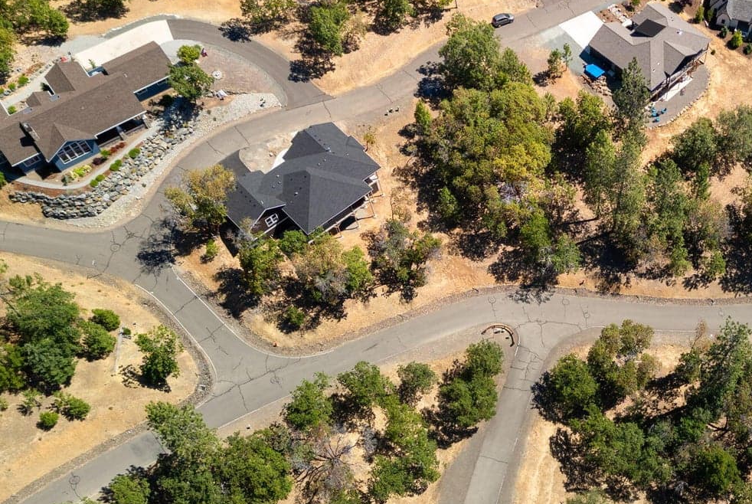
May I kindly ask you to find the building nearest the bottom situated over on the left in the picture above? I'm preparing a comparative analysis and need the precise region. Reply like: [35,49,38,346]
[217,123,383,245]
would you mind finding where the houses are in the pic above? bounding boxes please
[709,0,752,37]
[0,44,171,173]
[589,3,712,105]
[217,123,383,245]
